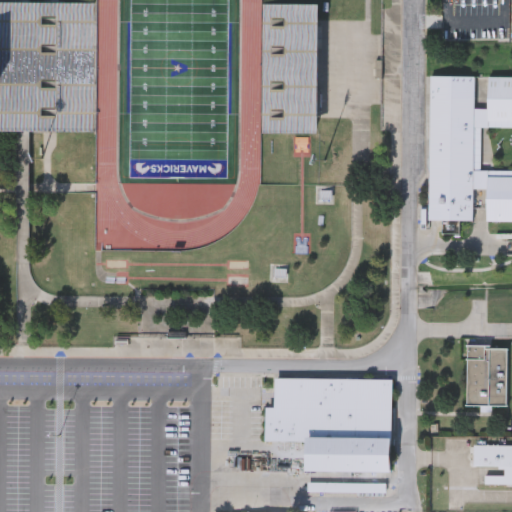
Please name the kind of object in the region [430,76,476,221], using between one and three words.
building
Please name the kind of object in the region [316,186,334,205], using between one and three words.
shed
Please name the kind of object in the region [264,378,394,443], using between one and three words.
building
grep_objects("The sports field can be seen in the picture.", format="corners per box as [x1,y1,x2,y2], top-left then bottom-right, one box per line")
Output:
[120,0,238,184]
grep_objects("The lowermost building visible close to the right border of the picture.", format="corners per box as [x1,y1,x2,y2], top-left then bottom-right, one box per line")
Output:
[471,445,512,486]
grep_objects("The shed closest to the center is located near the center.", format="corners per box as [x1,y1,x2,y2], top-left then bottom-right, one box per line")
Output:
[270,264,288,282]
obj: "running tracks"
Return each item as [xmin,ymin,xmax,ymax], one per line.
[97,0,262,250]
